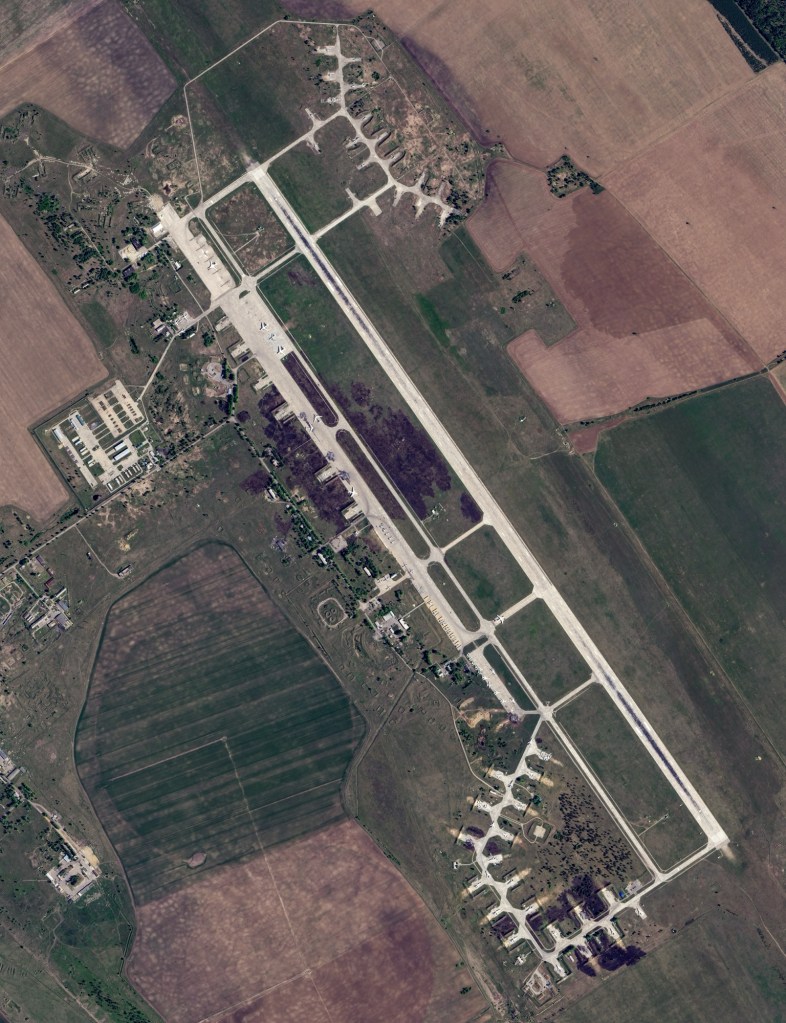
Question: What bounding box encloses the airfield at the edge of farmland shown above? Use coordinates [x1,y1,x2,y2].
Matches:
[147,24,731,984]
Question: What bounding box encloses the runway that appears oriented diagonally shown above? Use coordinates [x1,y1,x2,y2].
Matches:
[252,167,729,848]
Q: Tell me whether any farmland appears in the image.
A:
Yes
